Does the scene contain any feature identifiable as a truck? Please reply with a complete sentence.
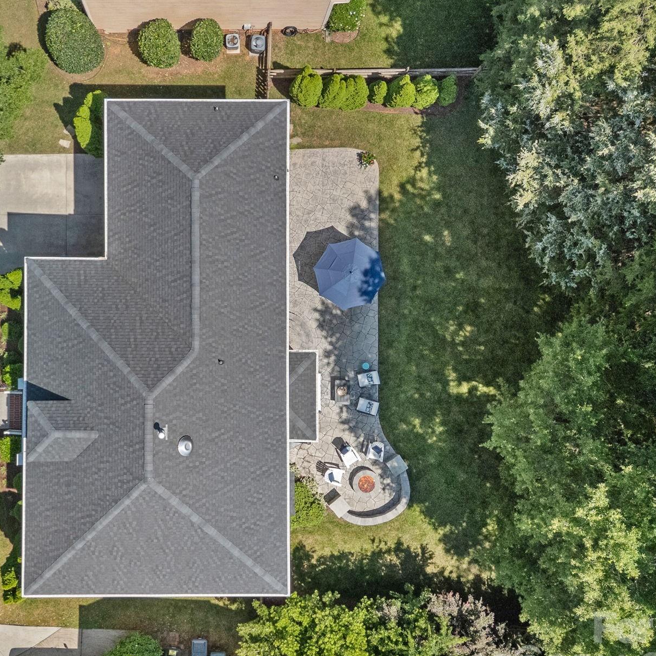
No, I find no truck anywhere in the image.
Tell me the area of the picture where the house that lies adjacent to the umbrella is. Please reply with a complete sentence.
The house that lies adjacent to the umbrella appears toward the left of the photo.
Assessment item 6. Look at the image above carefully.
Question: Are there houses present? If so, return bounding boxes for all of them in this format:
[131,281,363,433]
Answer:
[83,0,351,36]
[17,99,322,597]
